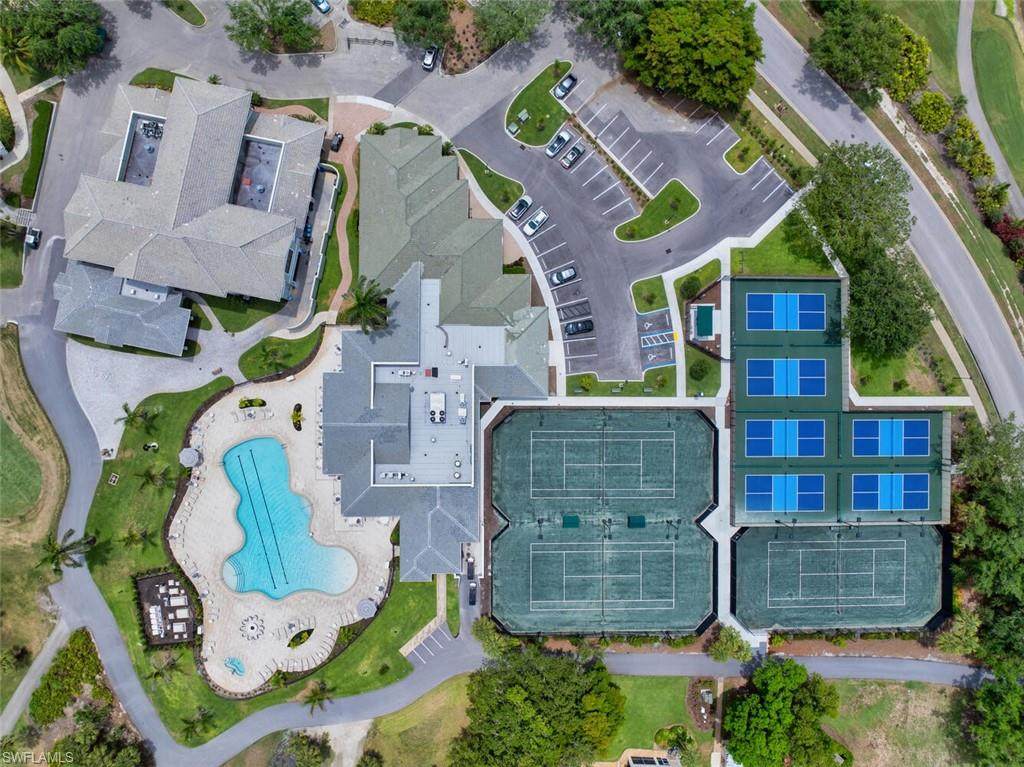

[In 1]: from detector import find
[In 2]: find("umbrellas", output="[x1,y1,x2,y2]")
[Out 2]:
[180,448,198,466]
[358,599,376,617]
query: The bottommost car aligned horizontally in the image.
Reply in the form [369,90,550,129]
[564,319,594,335]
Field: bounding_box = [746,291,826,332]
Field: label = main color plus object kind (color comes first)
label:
blue sports court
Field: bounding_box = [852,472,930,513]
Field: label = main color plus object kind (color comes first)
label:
blue sports court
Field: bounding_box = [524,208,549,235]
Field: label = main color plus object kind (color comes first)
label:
white car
